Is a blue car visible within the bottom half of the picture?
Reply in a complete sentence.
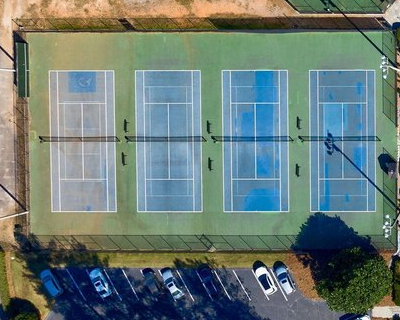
Yes, a blue car appears within the bottom half of the picture.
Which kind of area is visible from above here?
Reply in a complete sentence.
What you see here is a sports ground.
